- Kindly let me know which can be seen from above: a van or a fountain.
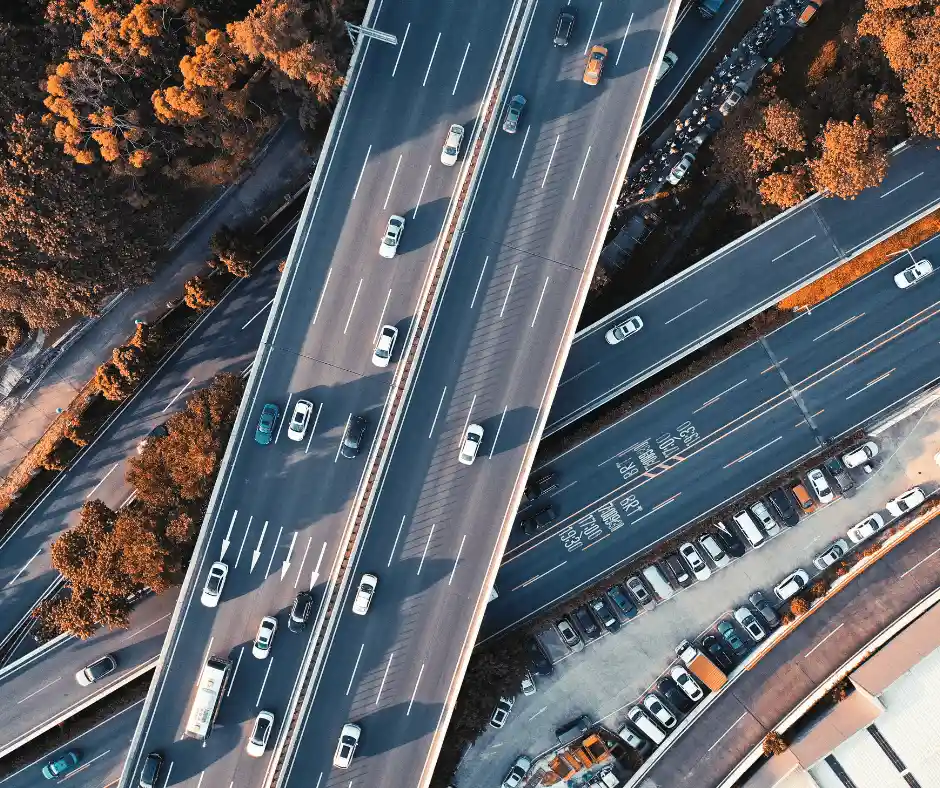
van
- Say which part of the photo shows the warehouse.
bottom right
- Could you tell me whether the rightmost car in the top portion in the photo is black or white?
white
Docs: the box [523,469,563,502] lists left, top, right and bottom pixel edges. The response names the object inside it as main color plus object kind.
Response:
black van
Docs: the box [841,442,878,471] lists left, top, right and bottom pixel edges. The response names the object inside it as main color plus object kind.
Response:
white car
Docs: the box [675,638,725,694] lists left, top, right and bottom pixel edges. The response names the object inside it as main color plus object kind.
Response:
orange truck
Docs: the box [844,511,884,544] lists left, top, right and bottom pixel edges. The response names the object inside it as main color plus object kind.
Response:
white car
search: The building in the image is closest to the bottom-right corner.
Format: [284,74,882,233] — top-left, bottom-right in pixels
[738,604,940,788]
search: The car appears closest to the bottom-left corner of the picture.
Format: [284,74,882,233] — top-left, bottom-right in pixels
[42,748,83,779]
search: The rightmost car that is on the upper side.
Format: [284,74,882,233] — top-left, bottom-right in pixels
[890,258,933,290]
